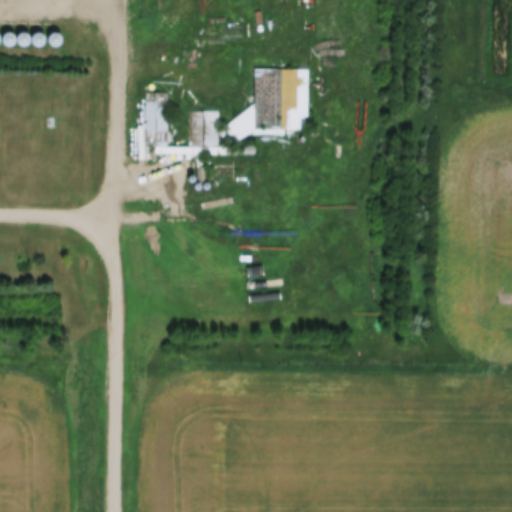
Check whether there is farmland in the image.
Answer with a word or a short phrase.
Yes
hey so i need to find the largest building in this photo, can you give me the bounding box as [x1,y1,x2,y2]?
[227,68,310,140]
